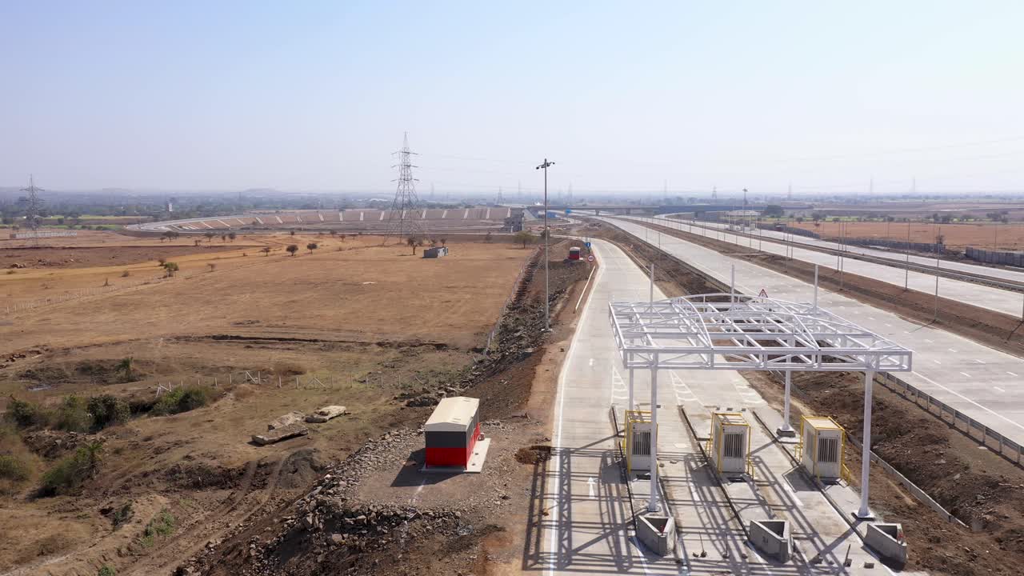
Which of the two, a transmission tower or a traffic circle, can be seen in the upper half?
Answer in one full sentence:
It is a transmission tower that can be seen in the upper half.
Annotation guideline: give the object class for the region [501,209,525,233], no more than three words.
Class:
building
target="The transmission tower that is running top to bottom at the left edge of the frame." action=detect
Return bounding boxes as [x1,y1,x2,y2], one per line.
[21,172,50,246]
